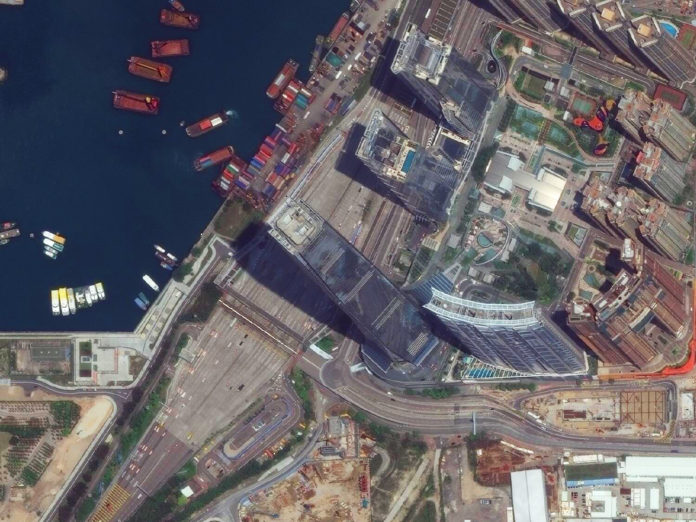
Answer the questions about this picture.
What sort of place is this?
port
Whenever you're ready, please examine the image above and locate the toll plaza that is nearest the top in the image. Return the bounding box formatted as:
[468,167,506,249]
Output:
[218,283,307,355]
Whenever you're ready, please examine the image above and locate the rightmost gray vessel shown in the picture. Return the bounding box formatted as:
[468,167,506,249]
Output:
[310,37,322,70]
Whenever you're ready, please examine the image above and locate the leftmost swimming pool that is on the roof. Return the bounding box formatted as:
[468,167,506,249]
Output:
[402,149,416,174]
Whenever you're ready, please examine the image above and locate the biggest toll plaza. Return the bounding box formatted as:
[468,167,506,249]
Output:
[152,300,299,452]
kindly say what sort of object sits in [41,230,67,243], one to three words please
vessel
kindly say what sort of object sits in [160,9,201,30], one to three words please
ship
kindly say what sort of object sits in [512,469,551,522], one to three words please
building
